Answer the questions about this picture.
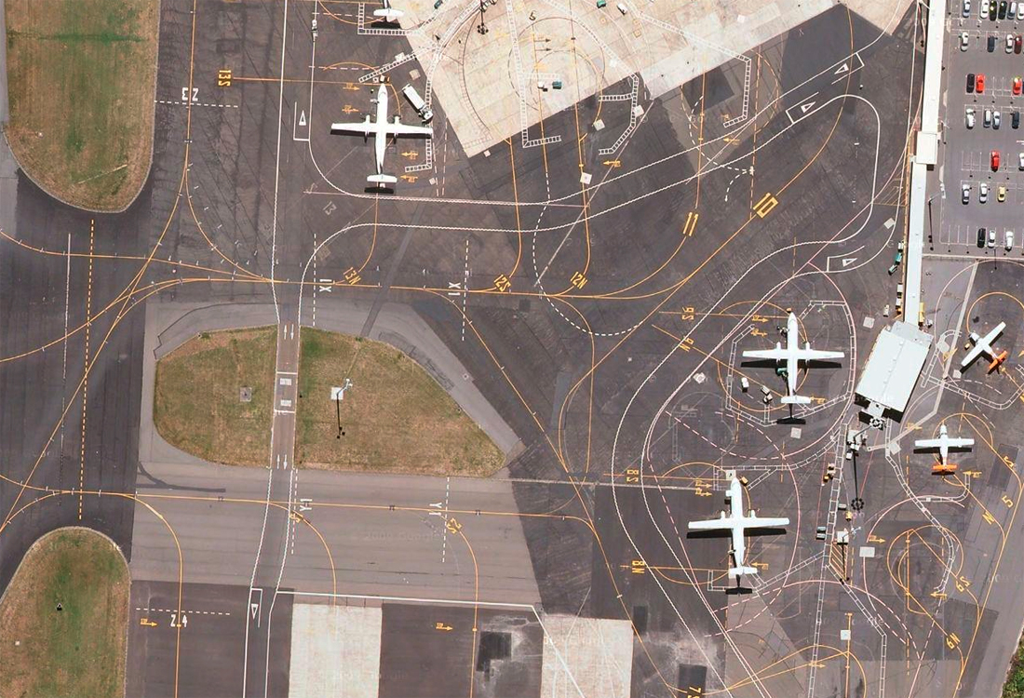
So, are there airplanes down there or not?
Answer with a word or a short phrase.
Yes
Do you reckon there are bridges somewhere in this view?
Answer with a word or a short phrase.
No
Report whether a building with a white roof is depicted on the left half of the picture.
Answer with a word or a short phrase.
No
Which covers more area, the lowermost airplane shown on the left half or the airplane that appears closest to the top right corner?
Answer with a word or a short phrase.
the lowermost airplane shown on the left half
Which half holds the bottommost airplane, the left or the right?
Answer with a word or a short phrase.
right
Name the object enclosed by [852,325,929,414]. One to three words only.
building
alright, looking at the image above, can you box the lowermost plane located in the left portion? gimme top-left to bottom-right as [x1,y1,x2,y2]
[331,85,432,176]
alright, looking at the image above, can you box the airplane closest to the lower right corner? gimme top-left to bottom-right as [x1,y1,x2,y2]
[916,423,975,470]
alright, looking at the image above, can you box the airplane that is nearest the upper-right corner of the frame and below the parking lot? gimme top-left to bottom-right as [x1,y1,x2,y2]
[964,325,1007,370]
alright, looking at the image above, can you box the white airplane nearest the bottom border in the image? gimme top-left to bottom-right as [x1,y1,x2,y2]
[686,478,791,575]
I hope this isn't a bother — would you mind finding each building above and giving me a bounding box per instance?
[902,163,927,328]
[852,325,929,414]
[919,0,946,133]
